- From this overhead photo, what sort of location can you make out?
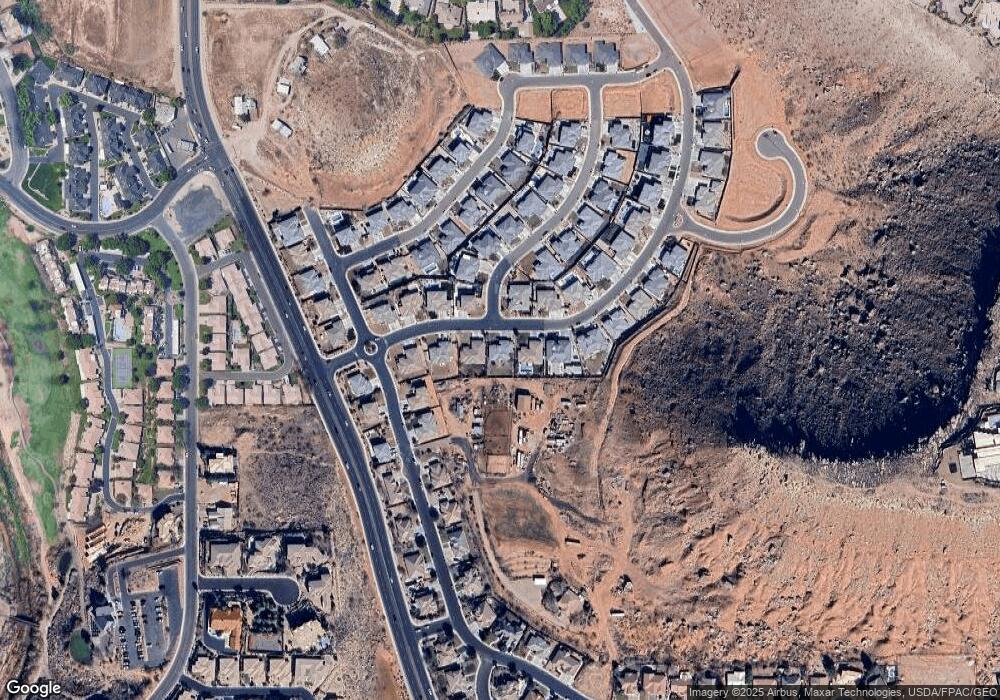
residential area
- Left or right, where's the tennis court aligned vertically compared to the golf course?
right of it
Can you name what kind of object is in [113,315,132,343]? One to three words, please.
swimming pool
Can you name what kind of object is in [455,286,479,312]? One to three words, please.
house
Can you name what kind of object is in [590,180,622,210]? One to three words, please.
house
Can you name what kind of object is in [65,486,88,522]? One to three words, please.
building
